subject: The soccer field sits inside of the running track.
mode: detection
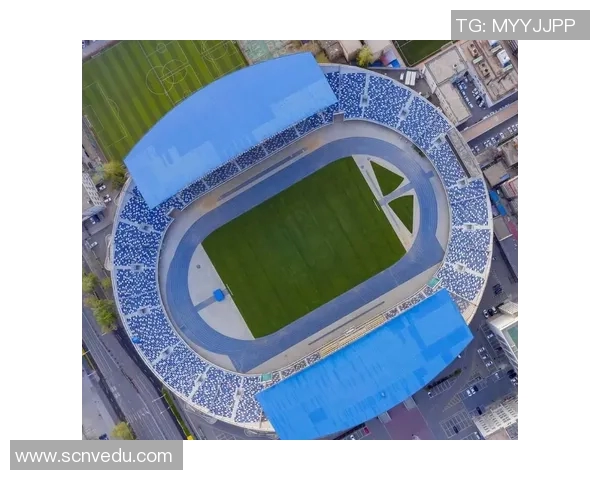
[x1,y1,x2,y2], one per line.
[200,156,407,338]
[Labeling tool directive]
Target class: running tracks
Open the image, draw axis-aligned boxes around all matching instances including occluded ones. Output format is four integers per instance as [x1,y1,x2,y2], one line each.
[167,135,449,372]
